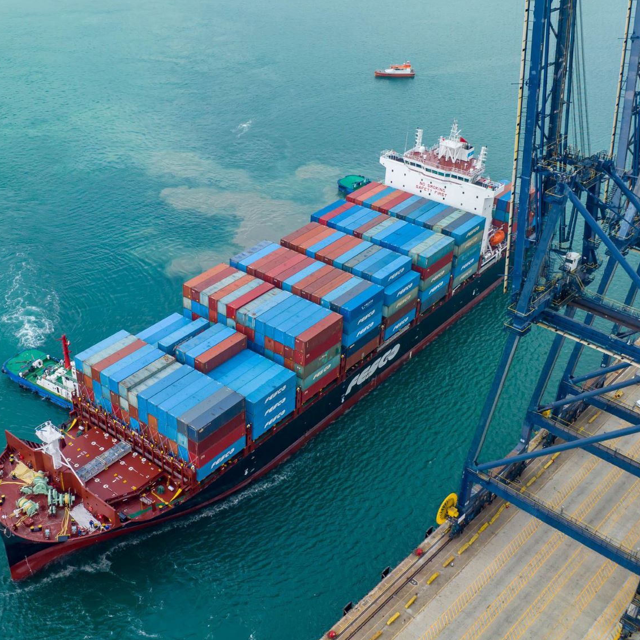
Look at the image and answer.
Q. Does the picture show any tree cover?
No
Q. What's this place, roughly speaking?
port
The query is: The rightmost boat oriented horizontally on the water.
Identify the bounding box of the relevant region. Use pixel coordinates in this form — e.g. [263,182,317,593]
[375,61,413,79]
